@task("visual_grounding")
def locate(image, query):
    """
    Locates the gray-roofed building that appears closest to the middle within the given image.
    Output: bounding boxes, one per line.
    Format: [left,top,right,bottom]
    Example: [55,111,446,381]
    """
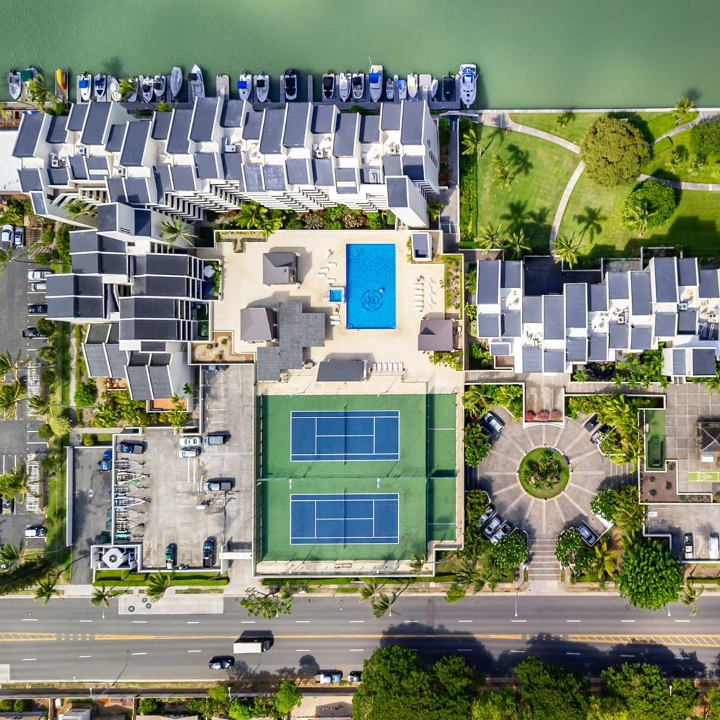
[316,361,371,381]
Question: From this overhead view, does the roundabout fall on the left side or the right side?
right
